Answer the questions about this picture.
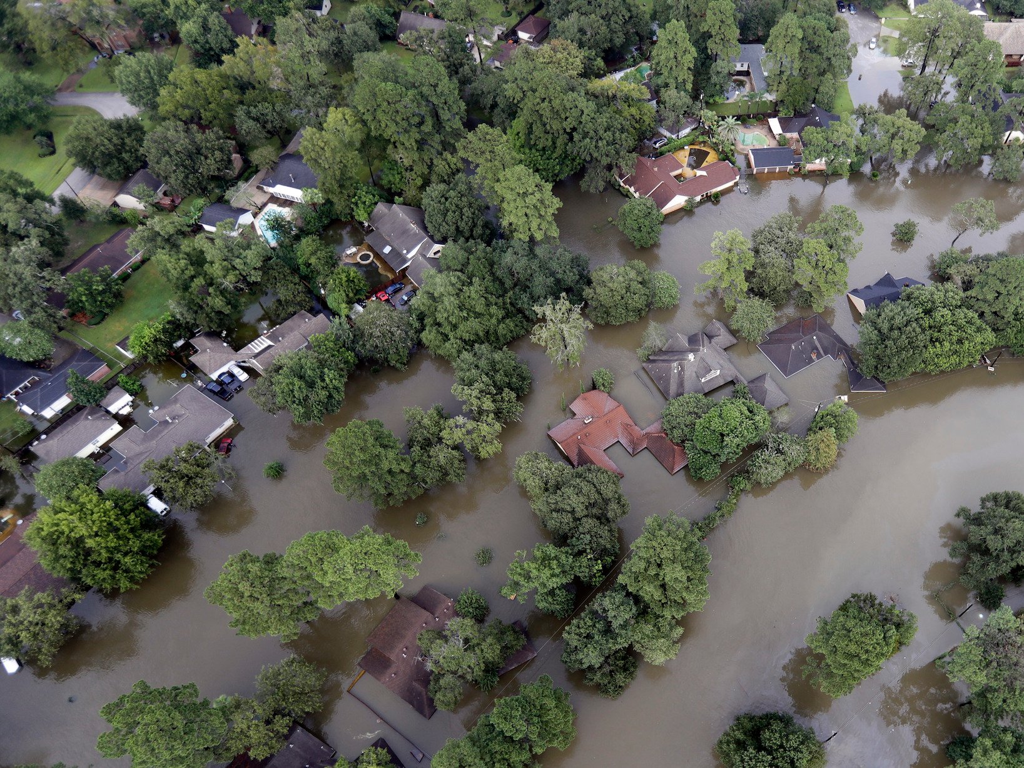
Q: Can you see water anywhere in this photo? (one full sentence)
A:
Yes, there's water in this view.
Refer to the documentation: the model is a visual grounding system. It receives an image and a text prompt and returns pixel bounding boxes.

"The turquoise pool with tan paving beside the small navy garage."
[254,203,296,248]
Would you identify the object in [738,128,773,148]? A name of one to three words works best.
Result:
swimming pool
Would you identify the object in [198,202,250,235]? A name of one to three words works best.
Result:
building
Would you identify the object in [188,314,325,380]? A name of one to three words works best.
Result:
house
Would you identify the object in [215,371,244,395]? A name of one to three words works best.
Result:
truck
